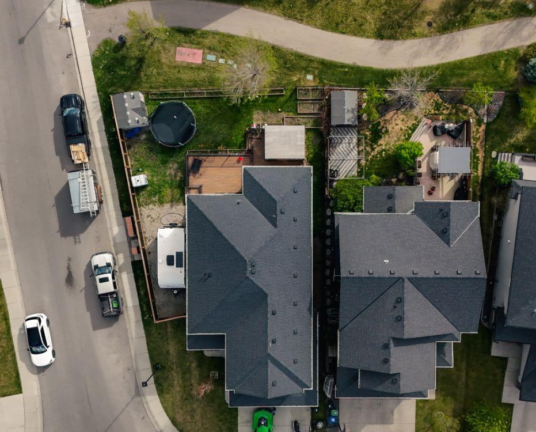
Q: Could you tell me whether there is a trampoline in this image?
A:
Yes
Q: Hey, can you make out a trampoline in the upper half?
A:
Yes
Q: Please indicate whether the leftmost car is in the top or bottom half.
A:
bottom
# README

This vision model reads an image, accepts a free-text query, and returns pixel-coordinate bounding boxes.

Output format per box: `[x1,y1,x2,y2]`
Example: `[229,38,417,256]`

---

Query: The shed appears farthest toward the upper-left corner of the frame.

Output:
[111,91,149,131]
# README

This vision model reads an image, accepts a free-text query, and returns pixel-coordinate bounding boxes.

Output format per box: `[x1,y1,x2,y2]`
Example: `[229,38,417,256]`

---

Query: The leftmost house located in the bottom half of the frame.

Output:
[184,166,319,407]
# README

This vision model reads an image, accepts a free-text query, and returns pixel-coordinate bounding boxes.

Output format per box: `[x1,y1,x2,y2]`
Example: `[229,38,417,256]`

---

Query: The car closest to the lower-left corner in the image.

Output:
[25,311,57,369]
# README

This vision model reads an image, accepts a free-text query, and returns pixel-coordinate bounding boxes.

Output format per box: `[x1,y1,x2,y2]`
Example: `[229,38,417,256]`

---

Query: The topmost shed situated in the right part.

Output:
[329,90,358,127]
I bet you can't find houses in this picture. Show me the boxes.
[333,186,487,398]
[184,166,319,407]
[490,179,536,401]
